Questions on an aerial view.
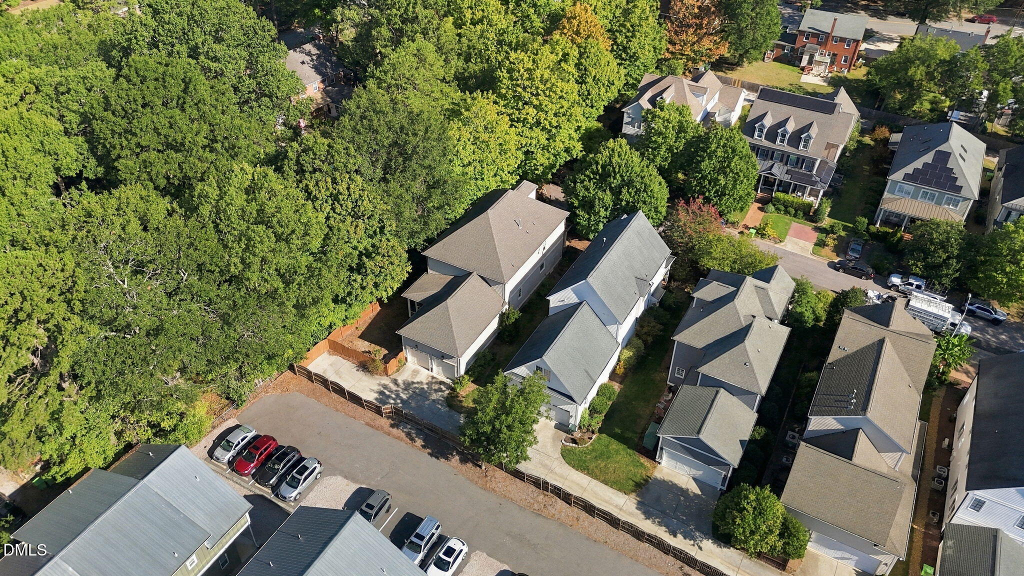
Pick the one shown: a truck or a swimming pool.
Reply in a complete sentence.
There is a truck in the scene.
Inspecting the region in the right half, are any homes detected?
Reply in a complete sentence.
Yes, there is a home in the right half.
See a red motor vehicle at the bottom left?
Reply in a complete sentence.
Yes, you'll find a red motor vehicle at the bottom left.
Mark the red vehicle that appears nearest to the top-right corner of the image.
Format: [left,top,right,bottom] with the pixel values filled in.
[972,12,1001,24]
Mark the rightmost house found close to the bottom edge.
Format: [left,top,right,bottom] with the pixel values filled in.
[932,355,1024,576]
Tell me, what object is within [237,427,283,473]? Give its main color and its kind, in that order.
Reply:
red car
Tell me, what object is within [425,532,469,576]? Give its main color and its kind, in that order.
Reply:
white car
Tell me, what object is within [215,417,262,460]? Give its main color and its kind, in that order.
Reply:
gray car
